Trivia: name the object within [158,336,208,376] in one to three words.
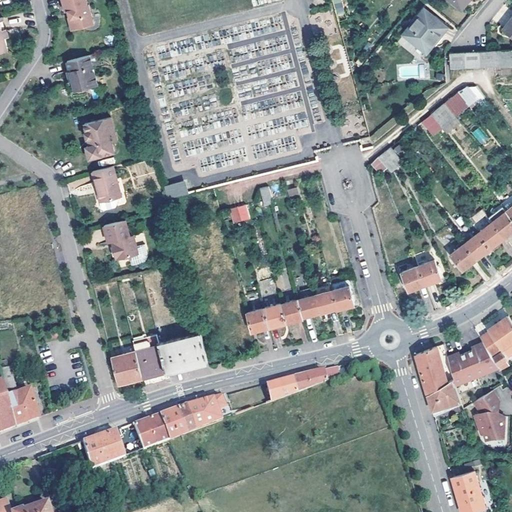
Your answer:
building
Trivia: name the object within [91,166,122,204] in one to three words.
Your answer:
house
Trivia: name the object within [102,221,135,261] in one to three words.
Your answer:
house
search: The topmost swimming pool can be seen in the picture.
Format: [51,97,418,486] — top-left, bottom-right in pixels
[397,62,430,80]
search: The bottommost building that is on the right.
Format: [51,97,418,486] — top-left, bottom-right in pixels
[450,472,488,512]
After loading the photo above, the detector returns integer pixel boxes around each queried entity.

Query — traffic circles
[368,317,412,362]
